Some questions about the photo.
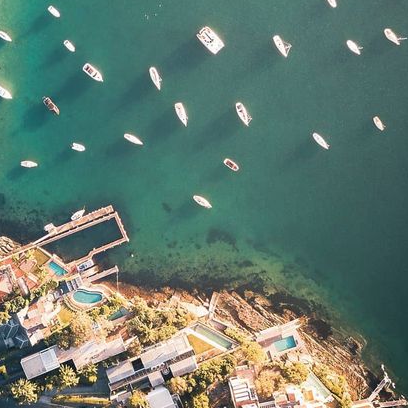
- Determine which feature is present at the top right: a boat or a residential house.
boat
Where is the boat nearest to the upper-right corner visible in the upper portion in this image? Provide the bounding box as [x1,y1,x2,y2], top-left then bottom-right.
[384,28,403,45]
